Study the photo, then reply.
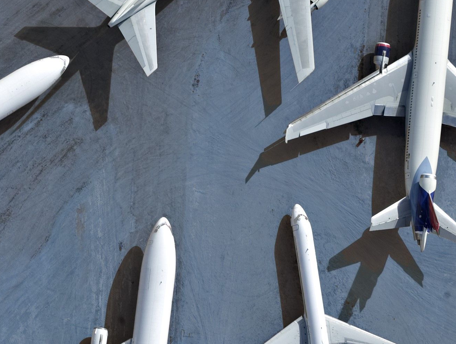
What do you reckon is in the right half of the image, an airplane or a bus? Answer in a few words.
airplane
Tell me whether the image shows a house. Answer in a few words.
No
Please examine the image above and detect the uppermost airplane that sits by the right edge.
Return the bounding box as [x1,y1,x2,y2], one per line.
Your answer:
[282,0,456,252]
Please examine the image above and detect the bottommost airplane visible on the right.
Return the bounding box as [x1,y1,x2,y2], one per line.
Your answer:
[264,204,394,344]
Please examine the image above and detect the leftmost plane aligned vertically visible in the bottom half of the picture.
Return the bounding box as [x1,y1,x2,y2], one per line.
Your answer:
[125,217,175,344]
